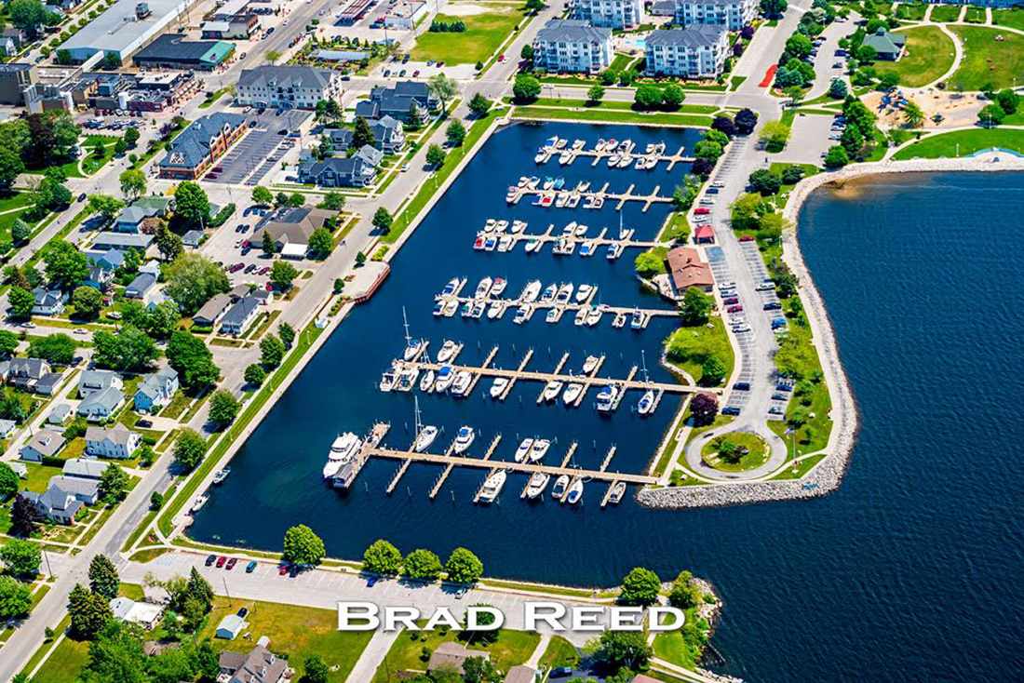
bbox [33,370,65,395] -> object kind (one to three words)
building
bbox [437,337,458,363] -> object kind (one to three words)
boat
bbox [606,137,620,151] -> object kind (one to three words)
boat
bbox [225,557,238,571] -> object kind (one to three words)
vehicle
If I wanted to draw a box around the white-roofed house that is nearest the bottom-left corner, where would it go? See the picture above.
[110,598,166,633]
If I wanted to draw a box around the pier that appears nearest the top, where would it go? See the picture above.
[542,138,695,172]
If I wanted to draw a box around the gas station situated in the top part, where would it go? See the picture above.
[336,0,379,29]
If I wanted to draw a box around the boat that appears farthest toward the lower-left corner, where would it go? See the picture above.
[192,490,212,513]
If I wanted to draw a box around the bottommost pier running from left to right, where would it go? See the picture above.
[367,430,659,509]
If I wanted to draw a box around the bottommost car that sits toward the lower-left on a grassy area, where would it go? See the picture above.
[235,605,250,619]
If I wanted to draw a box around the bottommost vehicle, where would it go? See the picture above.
[551,663,569,682]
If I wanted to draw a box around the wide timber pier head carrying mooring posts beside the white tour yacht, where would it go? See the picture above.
[336,422,394,491]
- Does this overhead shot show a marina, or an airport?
marina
